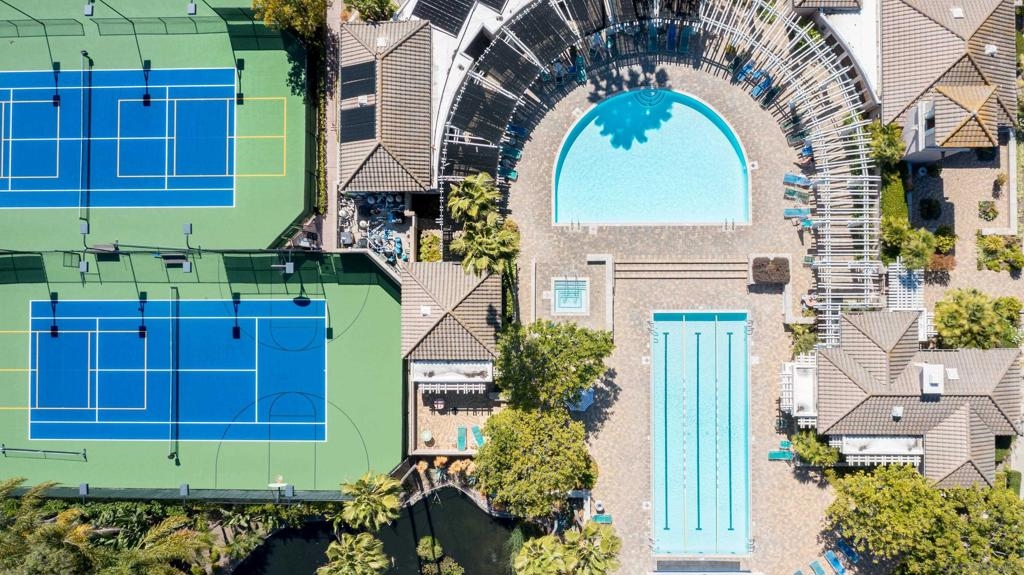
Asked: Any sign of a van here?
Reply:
No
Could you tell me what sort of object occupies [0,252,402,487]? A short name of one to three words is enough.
sports court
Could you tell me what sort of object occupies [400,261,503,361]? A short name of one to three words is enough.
building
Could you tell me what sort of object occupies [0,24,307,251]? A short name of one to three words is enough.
tennis court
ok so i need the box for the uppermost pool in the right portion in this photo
[550,86,752,227]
